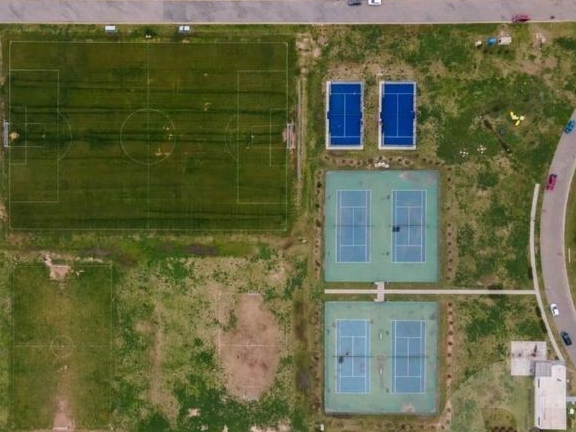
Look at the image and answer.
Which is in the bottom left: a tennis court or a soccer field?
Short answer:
soccer field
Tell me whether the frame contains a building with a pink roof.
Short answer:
No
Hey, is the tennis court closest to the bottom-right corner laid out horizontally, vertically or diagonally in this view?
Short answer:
vertically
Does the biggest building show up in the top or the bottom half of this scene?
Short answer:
bottom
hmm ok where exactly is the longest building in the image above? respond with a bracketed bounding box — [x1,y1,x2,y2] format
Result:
[531,359,566,430]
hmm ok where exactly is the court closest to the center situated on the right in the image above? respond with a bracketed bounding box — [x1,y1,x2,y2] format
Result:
[334,189,375,263]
